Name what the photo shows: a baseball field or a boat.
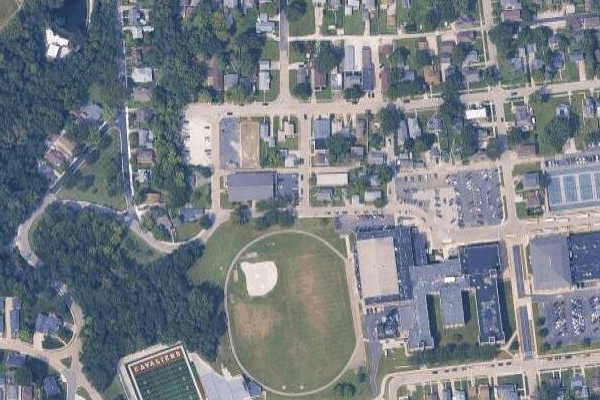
baseball field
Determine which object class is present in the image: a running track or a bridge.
running track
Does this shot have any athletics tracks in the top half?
No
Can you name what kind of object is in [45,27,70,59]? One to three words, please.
building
